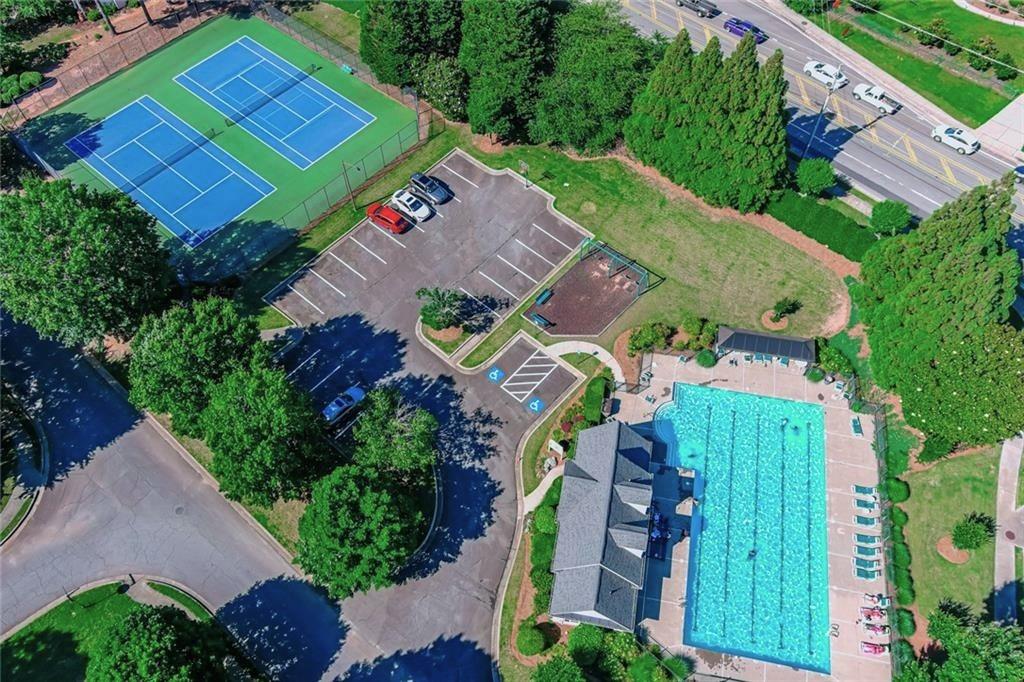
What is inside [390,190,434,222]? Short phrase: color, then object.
white car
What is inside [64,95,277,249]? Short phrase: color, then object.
blue tennis court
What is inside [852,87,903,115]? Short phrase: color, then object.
white truck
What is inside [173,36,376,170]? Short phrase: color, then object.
blue tennis court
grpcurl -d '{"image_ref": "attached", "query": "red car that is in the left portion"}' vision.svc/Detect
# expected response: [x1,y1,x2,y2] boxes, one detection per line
[366,206,410,234]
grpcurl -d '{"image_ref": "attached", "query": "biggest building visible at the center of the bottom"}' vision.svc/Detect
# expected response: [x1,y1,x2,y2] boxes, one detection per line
[547,419,656,636]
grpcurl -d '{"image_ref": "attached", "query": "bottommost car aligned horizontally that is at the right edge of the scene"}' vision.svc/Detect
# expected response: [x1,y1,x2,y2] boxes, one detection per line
[931,129,981,155]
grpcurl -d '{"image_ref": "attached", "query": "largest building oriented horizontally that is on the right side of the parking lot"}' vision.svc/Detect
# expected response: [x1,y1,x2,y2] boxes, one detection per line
[716,325,815,374]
